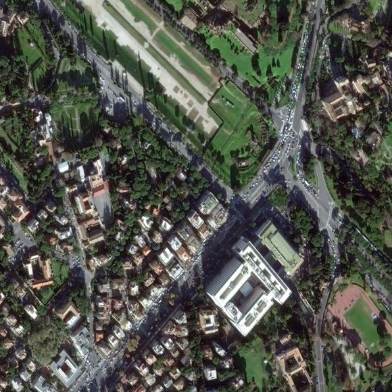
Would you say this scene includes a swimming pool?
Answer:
No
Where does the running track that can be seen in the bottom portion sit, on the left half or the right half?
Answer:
right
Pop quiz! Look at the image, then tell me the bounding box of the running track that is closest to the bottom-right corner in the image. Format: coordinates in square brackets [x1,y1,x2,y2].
[329,284,392,368]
